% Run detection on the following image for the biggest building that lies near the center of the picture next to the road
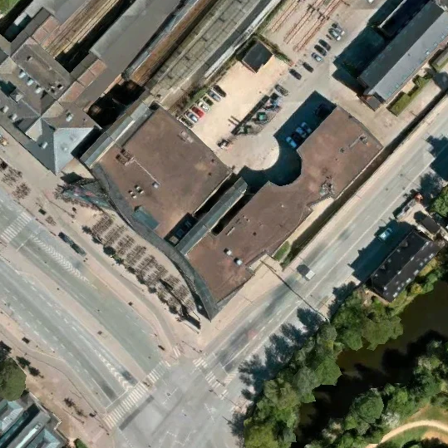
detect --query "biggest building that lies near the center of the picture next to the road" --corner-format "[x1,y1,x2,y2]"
[86,102,374,322]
